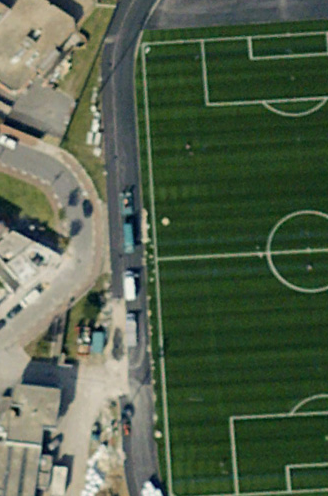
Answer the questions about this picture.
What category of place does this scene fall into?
sports ground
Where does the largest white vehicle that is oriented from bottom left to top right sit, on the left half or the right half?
left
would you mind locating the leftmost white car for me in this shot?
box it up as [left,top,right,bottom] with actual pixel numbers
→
[0,135,18,150]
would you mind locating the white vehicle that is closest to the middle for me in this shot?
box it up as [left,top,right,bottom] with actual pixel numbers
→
[122,268,138,303]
